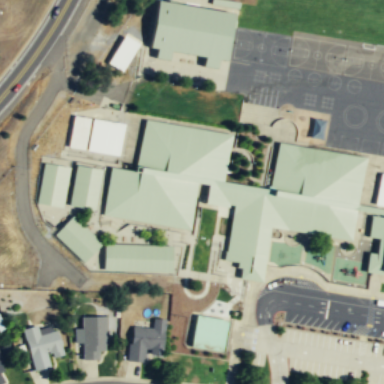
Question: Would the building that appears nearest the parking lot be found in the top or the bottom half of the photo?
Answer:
bottom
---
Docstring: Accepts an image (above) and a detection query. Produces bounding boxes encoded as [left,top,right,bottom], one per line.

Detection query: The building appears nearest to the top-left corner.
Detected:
[110,33,142,72]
